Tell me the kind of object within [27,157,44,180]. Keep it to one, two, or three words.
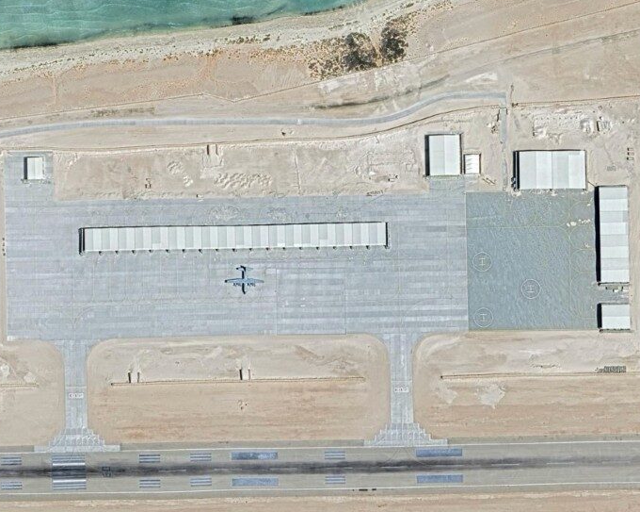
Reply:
hangar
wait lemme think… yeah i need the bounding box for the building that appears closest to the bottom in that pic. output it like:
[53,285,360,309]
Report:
[602,305,632,332]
